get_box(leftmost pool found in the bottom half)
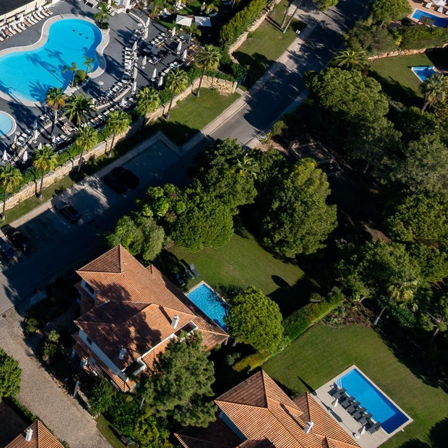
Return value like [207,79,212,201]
[183,280,232,338]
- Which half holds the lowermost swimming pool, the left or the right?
right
